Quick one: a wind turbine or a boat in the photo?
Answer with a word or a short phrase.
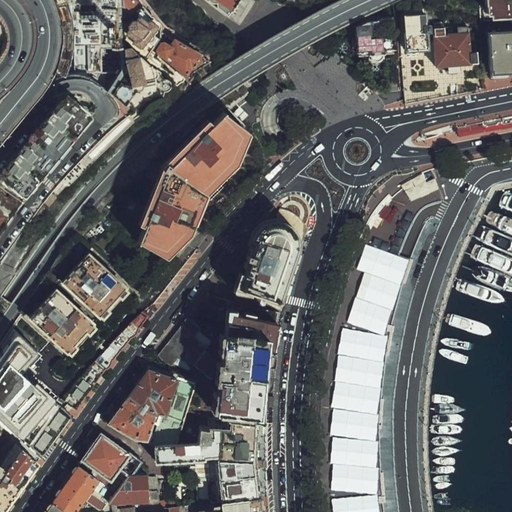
boat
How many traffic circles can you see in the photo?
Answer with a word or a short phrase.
1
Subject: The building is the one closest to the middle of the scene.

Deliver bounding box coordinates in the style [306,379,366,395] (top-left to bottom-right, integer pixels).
[236,218,304,309]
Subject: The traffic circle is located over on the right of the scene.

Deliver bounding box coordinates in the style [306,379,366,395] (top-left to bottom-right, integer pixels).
[324,118,390,185]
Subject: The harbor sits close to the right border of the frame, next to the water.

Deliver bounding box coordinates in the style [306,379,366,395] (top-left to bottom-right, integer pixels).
[418,179,512,512]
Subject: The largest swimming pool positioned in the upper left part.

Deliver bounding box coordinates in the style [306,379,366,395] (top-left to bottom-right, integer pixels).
[117,86,132,102]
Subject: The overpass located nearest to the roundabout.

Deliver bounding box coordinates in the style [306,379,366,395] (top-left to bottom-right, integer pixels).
[214,0,400,92]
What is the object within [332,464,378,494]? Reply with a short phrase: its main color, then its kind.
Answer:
white tent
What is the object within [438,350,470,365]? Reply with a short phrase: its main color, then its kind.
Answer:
white boat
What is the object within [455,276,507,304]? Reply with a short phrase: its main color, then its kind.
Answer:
white boat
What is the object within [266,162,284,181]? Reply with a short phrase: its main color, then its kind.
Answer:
white vehicle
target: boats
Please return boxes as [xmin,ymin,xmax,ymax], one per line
[431,446,462,456]
[436,498,451,506]
[475,226,512,254]
[434,404,465,414]
[432,492,447,500]
[432,482,452,490]
[494,192,512,210]
[432,474,451,482]
[466,242,512,274]
[430,414,464,424]
[430,435,462,446]
[440,339,474,350]
[444,312,494,336]
[431,394,456,404]
[468,270,512,295]
[428,424,463,435]
[432,465,456,475]
[432,456,457,466]
[455,276,507,304]
[438,350,470,365]
[481,209,512,234]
